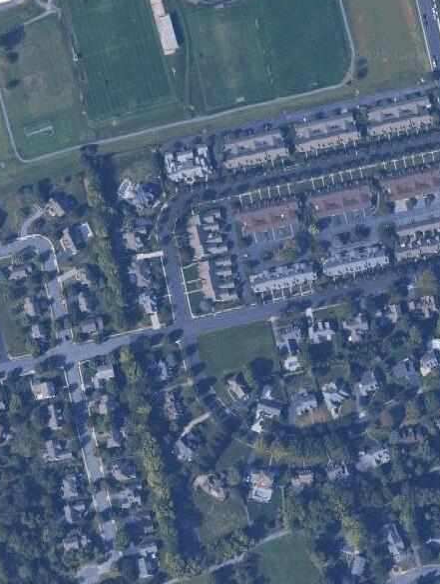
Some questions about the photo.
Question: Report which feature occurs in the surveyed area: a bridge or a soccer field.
soccer field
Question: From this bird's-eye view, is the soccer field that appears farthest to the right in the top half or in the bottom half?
top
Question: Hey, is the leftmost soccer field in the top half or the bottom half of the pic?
top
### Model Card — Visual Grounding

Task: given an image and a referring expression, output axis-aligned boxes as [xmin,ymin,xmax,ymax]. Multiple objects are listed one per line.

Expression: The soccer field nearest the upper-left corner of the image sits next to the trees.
[61,0,181,130]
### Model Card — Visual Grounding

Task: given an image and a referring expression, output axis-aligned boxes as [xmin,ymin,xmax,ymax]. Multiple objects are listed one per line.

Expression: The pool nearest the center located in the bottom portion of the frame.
[283,354,300,372]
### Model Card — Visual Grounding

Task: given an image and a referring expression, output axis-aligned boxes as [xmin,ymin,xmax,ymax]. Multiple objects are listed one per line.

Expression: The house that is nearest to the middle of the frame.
[199,259,240,302]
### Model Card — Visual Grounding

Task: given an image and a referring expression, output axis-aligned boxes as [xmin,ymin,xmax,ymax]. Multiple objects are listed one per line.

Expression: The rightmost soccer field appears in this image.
[254,0,349,93]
